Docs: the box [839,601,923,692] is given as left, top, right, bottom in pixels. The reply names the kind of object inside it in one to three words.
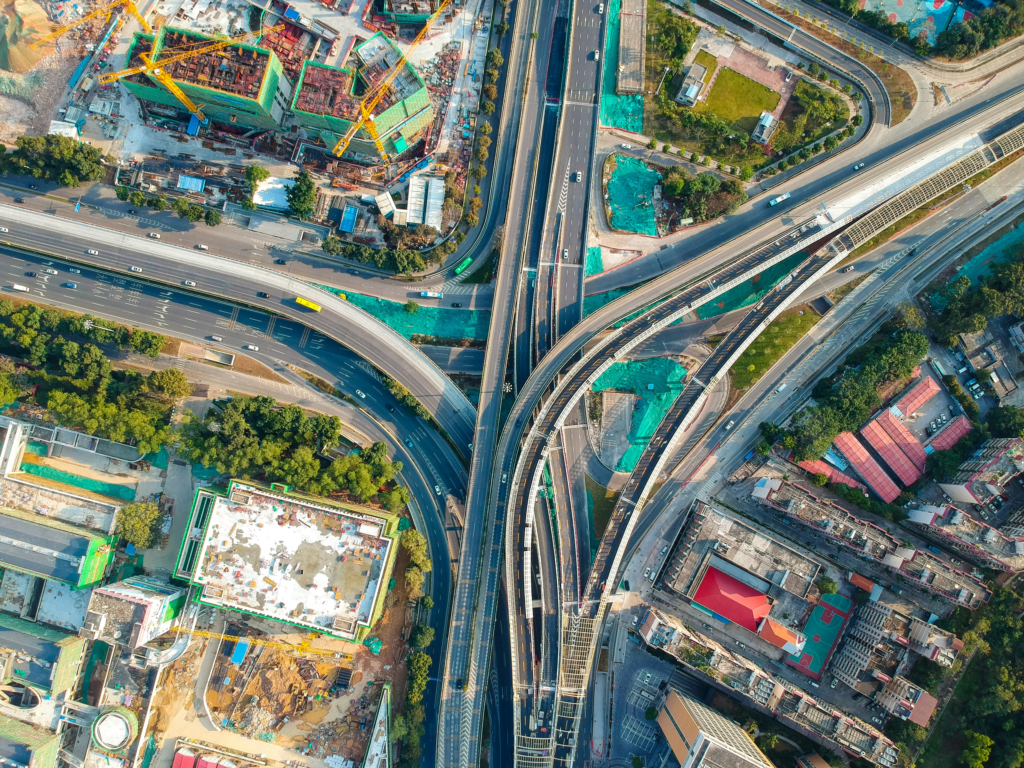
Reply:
building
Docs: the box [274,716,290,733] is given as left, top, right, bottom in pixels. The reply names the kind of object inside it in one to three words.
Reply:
vehicle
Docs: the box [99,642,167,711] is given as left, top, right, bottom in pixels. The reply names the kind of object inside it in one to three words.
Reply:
house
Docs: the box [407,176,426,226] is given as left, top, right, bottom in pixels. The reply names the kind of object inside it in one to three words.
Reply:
shed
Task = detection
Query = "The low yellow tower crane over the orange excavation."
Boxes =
[165,627,351,662]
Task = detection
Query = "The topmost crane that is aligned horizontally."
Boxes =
[30,0,160,50]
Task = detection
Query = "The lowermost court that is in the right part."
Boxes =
[786,594,857,680]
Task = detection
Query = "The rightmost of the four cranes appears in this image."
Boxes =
[333,0,454,169]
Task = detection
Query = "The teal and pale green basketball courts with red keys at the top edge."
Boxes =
[853,0,972,48]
